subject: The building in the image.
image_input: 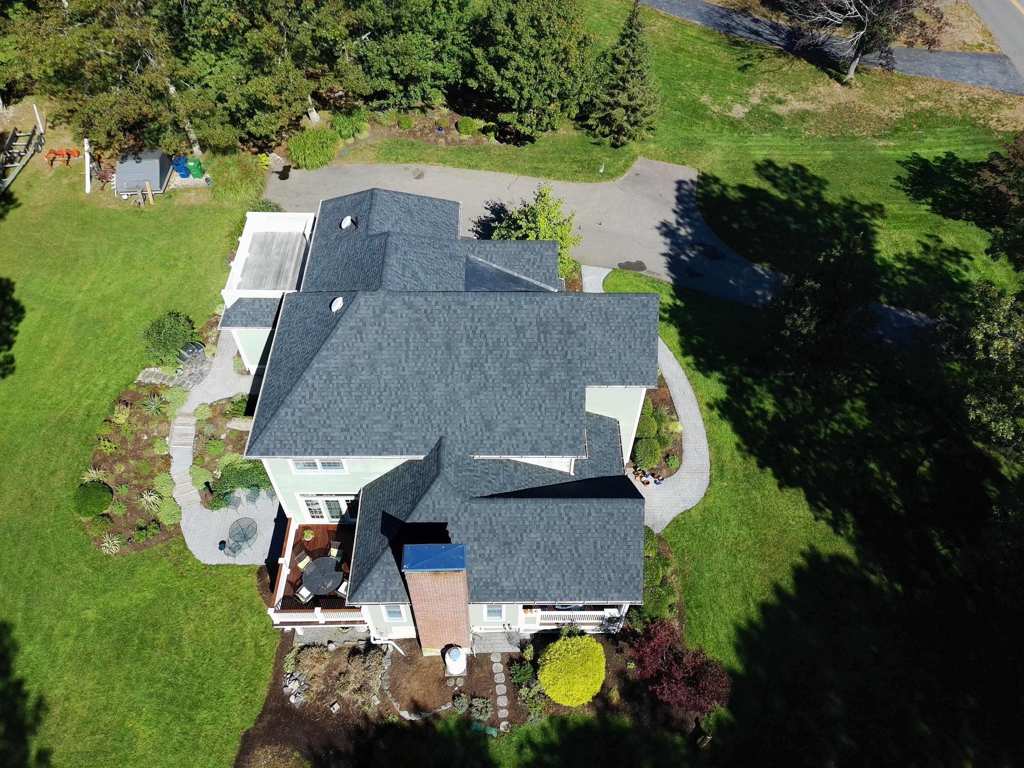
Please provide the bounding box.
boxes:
[215,187,659,660]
